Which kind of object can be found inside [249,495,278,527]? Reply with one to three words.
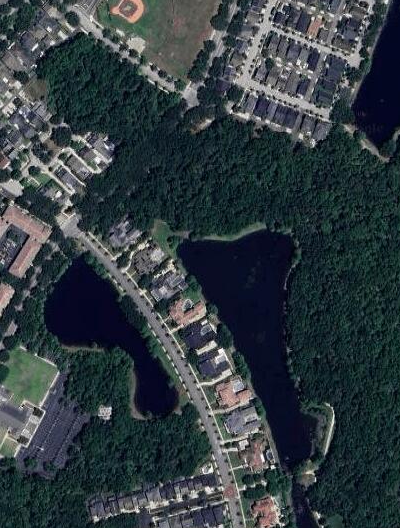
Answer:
house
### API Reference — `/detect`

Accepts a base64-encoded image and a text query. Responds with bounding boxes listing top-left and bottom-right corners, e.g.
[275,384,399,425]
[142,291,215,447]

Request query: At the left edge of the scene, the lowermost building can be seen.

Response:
[0,386,36,441]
